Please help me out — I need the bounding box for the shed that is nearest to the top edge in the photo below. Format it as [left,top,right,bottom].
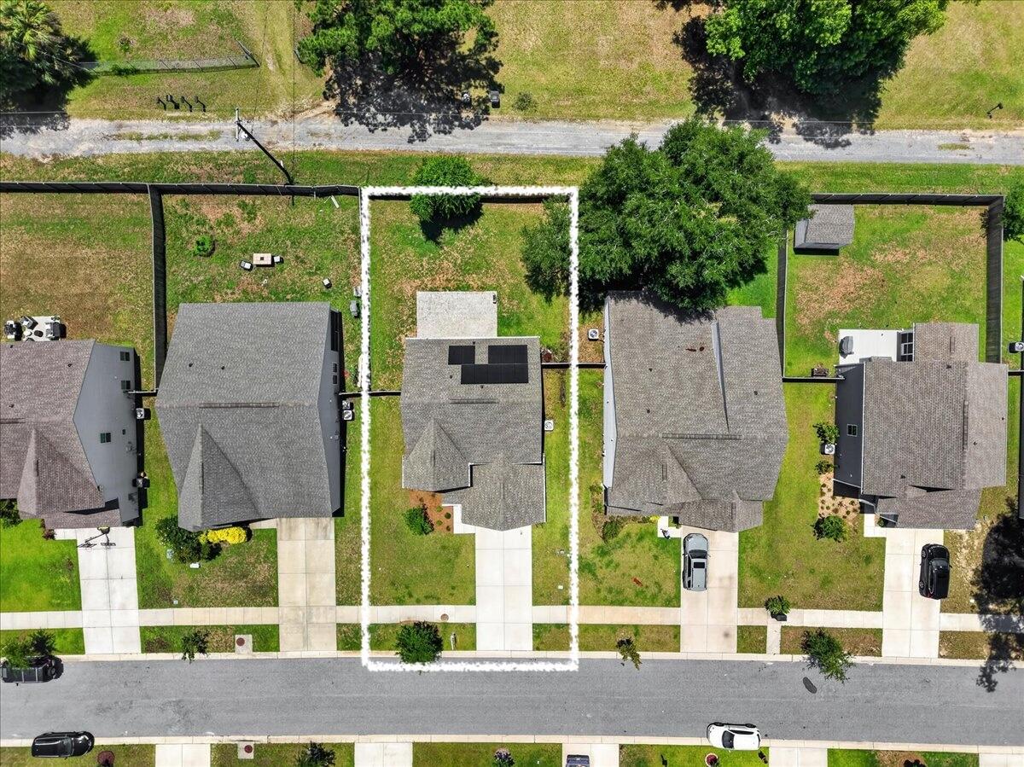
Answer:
[797,204,858,250]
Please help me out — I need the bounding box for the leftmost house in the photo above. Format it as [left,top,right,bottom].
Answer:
[0,343,138,527]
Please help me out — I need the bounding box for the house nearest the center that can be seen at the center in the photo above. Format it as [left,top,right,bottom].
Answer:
[401,337,546,526]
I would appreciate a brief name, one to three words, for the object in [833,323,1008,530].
house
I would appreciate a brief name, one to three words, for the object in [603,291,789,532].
house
